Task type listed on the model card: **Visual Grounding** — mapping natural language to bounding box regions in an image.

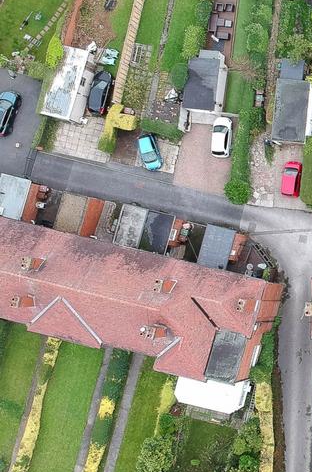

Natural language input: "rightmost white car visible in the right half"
[211,117,235,158]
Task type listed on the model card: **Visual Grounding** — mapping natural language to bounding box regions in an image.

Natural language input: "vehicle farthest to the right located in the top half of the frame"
[281,159,303,198]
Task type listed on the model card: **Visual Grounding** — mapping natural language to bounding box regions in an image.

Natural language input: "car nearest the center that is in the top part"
[136,132,166,173]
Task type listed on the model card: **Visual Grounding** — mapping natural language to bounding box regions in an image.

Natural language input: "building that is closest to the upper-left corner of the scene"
[41,46,104,121]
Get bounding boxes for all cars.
[0,92,24,137]
[136,132,166,173]
[88,71,114,115]
[211,117,235,158]
[281,159,303,198]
